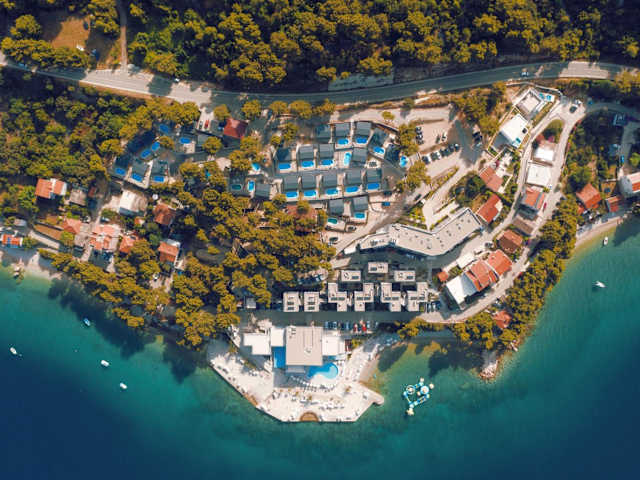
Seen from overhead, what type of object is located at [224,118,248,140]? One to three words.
house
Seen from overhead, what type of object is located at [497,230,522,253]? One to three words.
house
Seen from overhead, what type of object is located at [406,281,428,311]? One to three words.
building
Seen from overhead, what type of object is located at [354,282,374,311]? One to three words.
building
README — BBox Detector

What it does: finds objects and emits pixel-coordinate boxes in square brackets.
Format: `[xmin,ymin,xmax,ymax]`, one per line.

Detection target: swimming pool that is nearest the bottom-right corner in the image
[306,361,338,379]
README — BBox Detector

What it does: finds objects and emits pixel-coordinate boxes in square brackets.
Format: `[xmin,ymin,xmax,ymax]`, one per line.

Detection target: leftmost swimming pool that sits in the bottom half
[272,346,287,368]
